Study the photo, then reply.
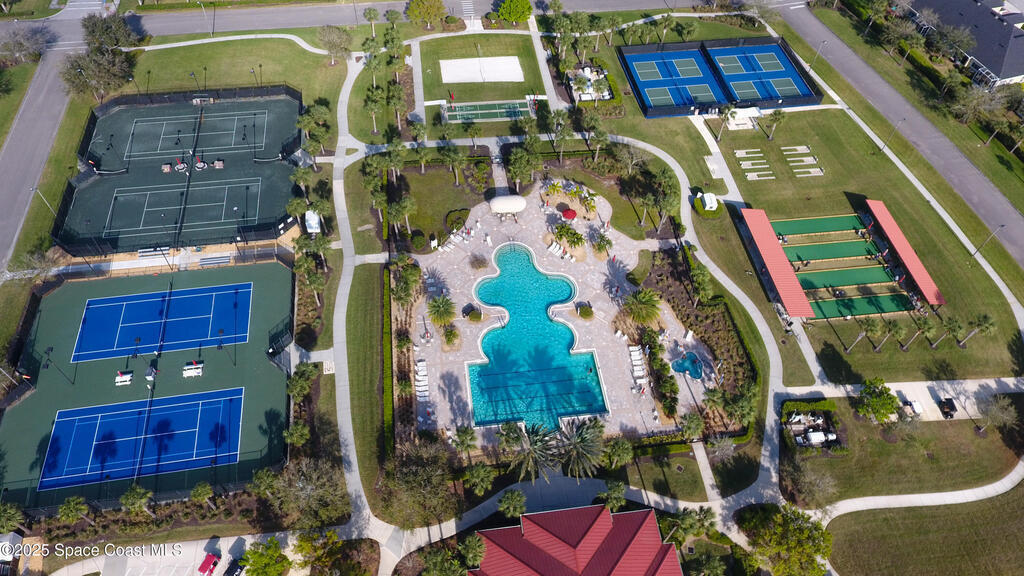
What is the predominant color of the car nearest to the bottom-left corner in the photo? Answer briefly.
red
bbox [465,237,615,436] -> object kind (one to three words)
swimming pool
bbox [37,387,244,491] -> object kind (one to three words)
tennis court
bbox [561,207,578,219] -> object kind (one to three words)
umbrella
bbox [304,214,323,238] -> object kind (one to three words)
shed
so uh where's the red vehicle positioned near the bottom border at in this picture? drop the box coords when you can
[191,552,224,576]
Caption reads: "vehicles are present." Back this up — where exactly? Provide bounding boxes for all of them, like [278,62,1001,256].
[894,404,918,424]
[934,397,959,418]
[191,552,224,576]
[218,551,251,576]
[908,400,927,421]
